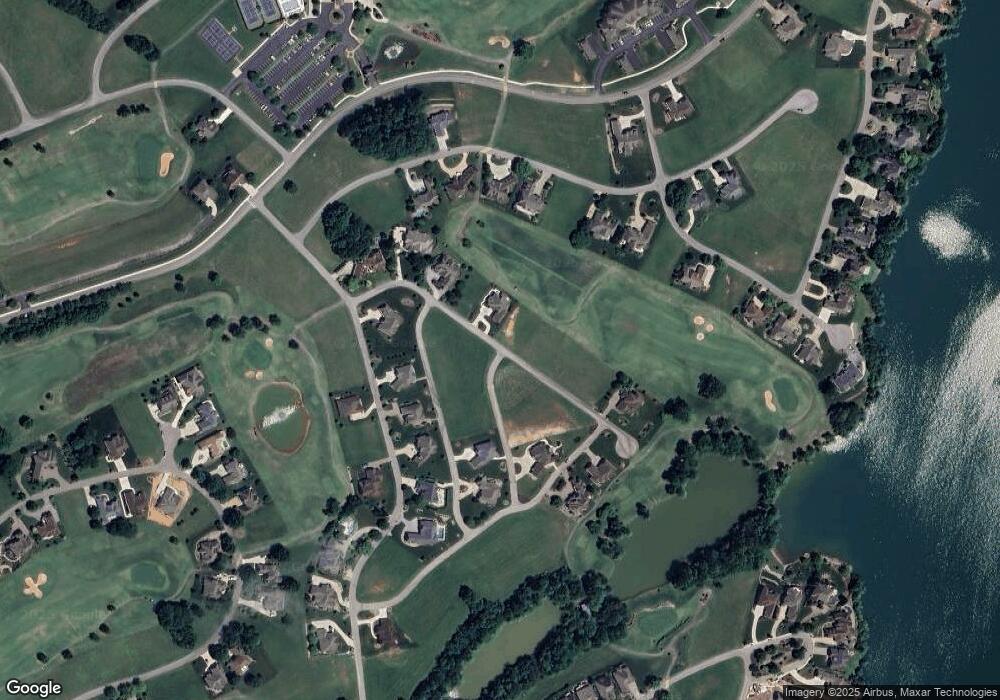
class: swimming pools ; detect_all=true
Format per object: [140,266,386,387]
[438,526,444,539]
[342,520,352,533]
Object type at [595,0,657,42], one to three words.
building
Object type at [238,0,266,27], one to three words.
tennis court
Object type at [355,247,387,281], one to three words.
house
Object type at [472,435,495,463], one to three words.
house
